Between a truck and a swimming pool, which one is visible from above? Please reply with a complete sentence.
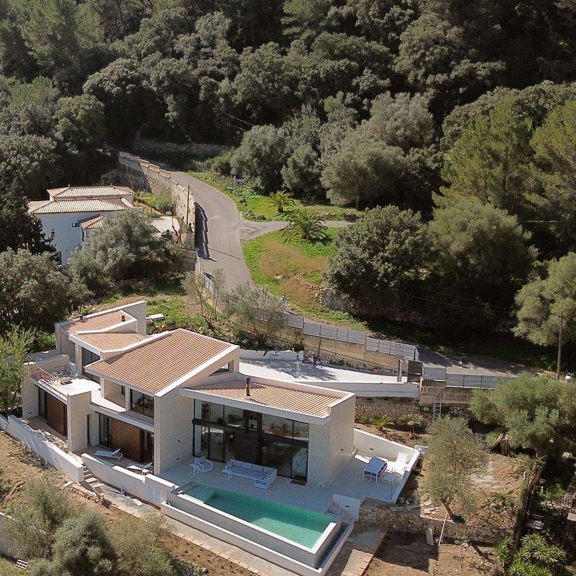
The one in the frame is a swimming pool.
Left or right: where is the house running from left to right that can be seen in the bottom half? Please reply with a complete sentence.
The house running from left to right that can be seen in the bottom half is on the left side of the image.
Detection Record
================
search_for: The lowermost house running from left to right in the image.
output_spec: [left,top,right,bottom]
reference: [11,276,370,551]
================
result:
[19,300,356,488]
